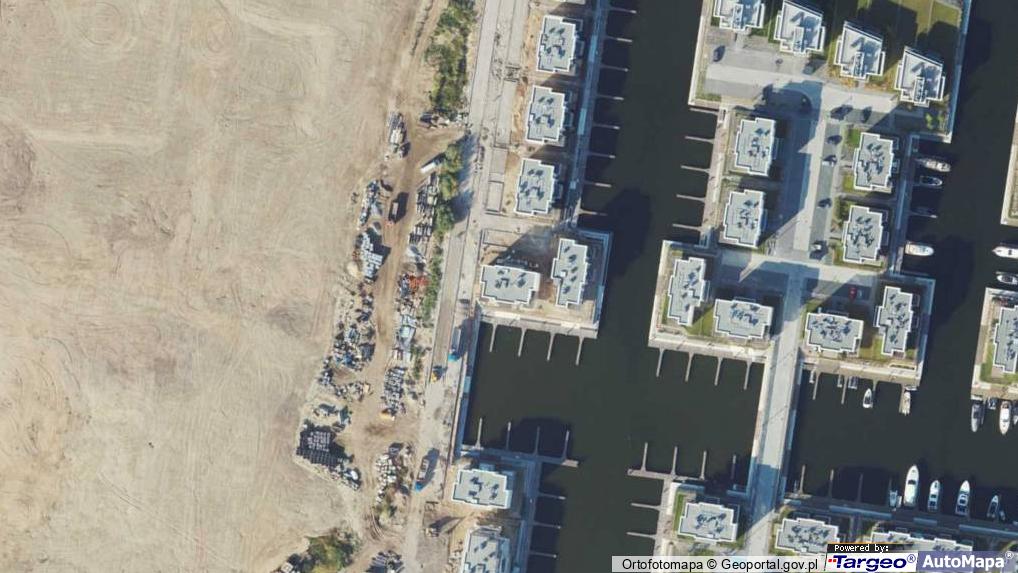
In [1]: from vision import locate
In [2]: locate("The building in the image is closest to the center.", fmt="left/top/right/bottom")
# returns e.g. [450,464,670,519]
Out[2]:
[480,262,540,304]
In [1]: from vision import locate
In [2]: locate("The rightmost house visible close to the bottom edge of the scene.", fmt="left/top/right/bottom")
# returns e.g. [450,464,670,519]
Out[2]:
[918,536,977,573]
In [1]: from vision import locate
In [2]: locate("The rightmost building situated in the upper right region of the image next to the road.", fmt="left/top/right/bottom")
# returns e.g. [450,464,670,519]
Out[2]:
[893,47,947,104]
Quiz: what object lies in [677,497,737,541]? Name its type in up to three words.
house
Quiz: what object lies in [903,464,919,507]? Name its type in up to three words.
boat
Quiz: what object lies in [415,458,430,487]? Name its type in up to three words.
vehicle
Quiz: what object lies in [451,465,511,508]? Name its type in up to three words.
house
